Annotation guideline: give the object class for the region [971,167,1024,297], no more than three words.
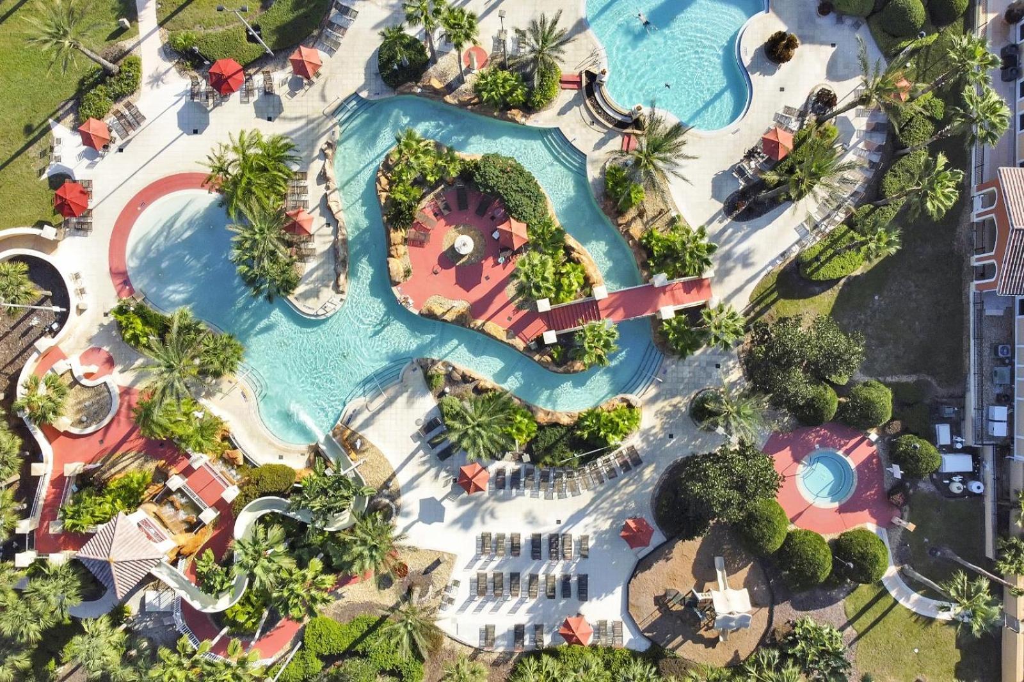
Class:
building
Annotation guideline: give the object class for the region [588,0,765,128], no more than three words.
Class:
swimming pool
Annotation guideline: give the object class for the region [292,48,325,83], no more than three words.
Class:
umbrella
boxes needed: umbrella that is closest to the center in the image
[499,219,528,252]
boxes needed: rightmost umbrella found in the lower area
[619,514,652,547]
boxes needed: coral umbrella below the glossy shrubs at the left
[82,120,118,152]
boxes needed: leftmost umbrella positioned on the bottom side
[459,459,489,494]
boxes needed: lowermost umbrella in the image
[557,611,592,643]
